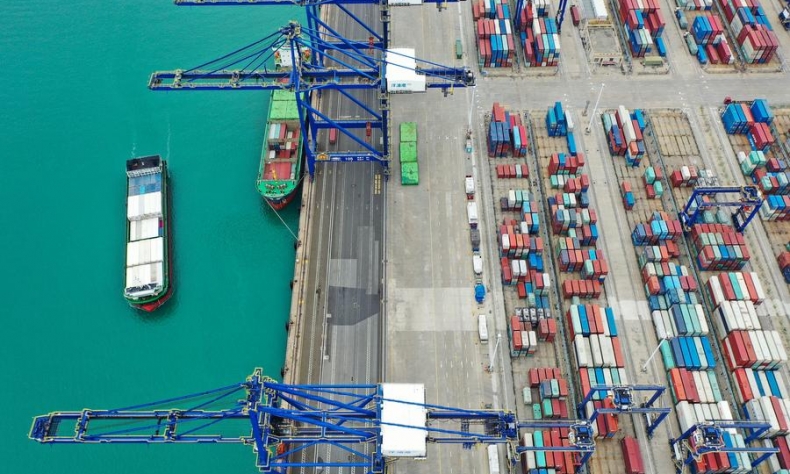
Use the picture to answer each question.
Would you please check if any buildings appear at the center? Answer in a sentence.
No, the scene shows no building at the center.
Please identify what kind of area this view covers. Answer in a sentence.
What you see here is a port.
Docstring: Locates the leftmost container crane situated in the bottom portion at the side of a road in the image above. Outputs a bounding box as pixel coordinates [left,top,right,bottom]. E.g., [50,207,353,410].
[29,367,522,474]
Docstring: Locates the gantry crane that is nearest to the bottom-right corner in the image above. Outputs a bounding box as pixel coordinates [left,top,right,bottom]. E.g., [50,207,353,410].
[673,417,777,471]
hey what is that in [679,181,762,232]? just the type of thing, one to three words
container crane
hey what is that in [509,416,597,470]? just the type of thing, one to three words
container crane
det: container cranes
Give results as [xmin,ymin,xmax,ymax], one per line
[576,380,669,433]
[148,20,476,185]
[679,181,762,232]
[673,417,777,471]
[175,0,468,98]
[29,367,522,474]
[509,416,597,470]
[514,0,566,29]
